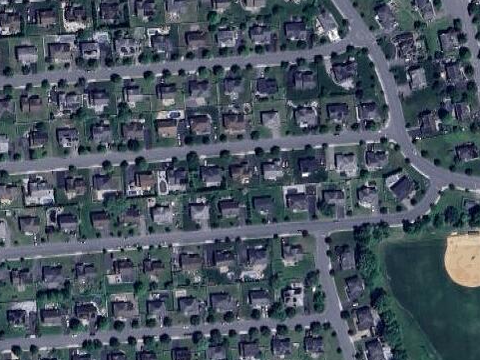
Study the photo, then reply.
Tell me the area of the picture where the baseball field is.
bottom right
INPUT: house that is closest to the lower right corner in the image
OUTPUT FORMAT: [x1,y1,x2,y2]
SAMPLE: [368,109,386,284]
[365,340,388,360]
